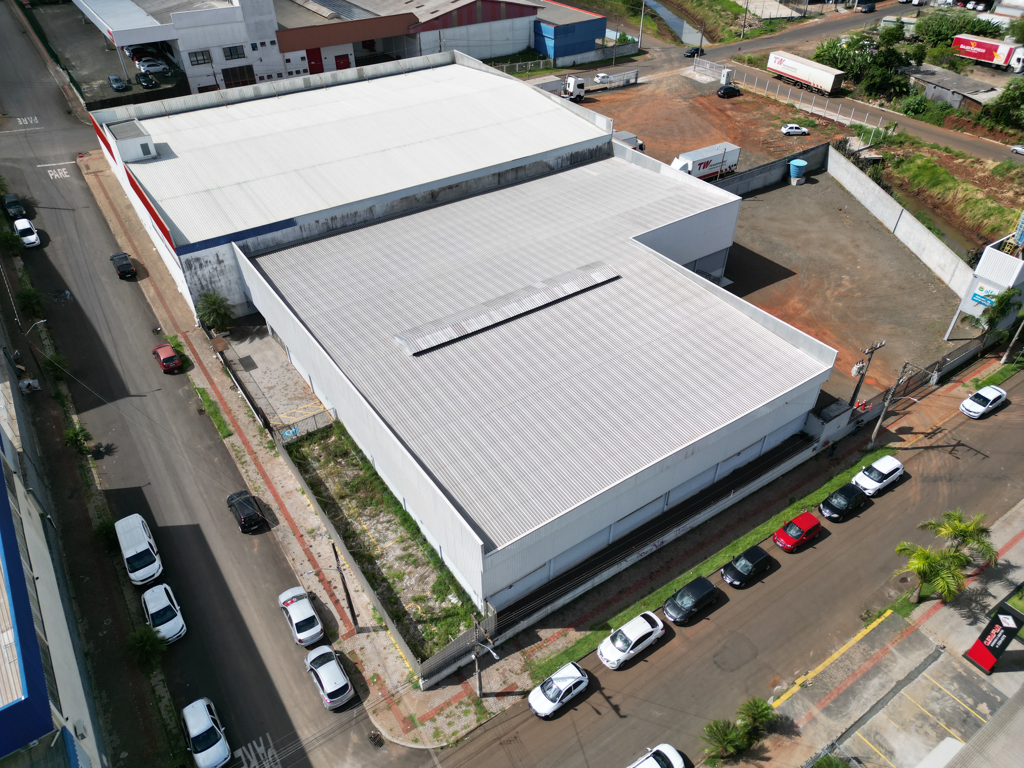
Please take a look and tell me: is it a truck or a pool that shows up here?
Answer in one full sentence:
This aerial view contains a truck.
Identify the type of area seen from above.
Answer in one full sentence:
This image shows an industrial area.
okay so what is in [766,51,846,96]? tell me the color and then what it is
white trailer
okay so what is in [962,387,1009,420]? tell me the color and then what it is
white car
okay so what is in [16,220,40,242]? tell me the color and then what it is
white car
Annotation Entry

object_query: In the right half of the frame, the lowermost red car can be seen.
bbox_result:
[770,511,825,555]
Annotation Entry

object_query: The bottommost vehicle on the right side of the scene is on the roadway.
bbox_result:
[624,740,686,768]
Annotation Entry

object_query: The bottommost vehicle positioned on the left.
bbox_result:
[180,695,232,768]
